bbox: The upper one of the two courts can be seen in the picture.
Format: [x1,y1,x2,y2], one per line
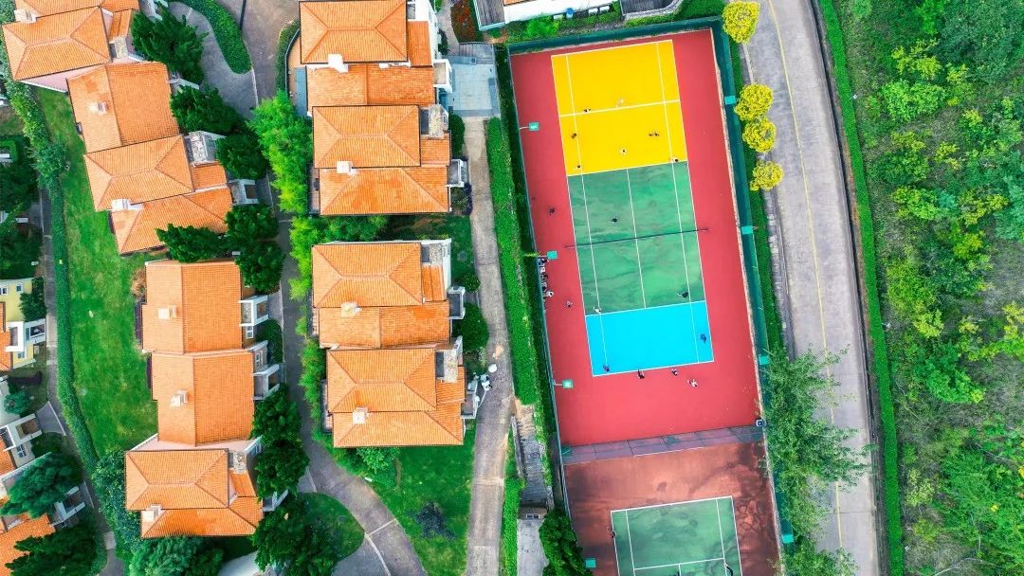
[514,29,763,445]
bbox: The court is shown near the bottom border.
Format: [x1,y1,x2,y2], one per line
[567,434,783,576]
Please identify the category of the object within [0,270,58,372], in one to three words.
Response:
house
